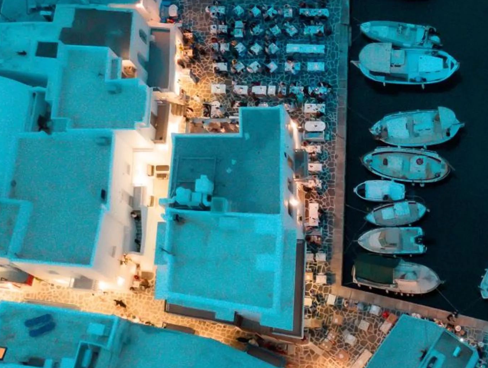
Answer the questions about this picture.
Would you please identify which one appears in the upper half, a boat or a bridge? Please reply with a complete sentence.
The one visible in the upper half is a boat.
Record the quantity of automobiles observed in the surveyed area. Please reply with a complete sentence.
There are no automobiles in the image.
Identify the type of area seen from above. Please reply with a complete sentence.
This image shows a residential area.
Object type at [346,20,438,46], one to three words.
boat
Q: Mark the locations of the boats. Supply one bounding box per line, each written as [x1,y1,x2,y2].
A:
[346,44,461,90]
[346,20,438,46]
[342,228,441,258]
[351,257,480,319]
[344,148,458,187]
[343,108,482,150]
[340,203,429,234]
[341,180,406,203]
